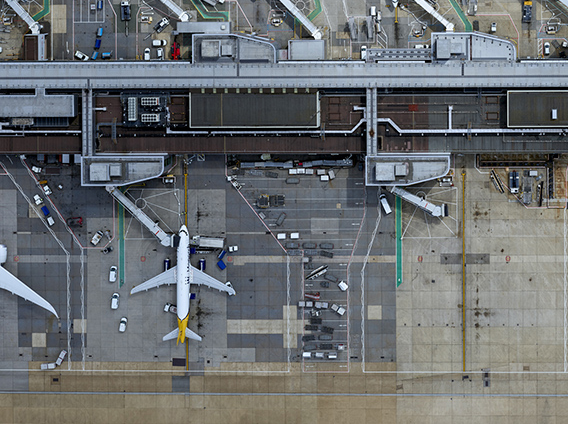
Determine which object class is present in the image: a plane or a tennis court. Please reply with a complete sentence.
The one in the frame is a plane.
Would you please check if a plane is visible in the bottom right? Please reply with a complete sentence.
No, in the bottom right there is no plane.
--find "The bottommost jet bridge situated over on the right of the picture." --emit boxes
[389,185,449,218]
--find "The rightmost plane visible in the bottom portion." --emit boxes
[129,224,236,342]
